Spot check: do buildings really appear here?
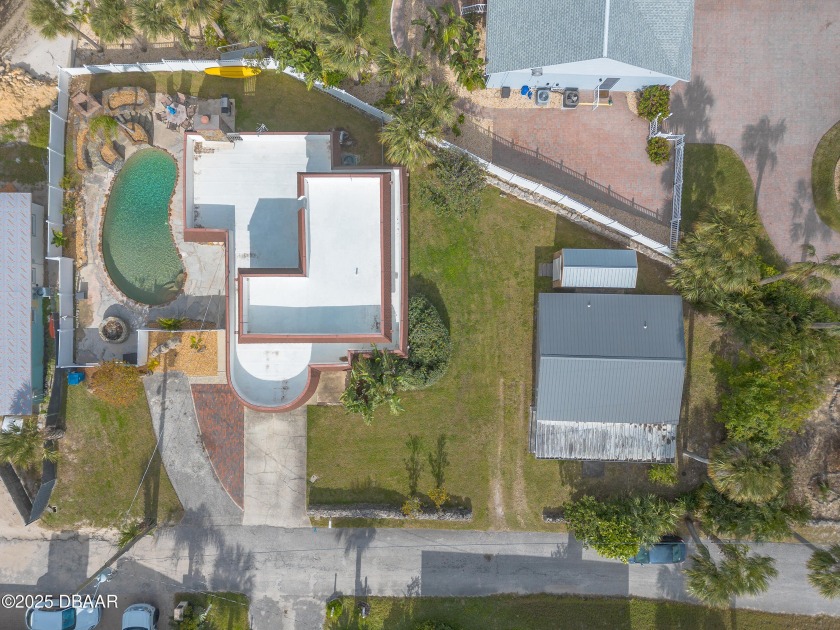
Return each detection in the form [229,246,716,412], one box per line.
[484,0,691,108]
[555,249,638,289]
[185,112,409,409]
[531,293,687,463]
[0,193,43,415]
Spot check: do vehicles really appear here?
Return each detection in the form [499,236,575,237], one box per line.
[21,601,102,630]
[617,535,692,572]
[118,599,158,630]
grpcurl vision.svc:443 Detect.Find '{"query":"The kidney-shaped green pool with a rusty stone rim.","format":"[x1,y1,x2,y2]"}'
[97,142,189,307]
